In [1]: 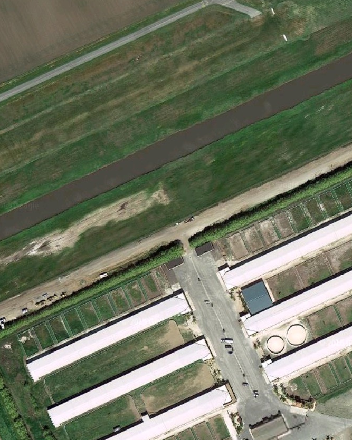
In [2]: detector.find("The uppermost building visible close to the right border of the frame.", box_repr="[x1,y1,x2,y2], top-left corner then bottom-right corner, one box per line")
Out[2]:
[218,211,352,289]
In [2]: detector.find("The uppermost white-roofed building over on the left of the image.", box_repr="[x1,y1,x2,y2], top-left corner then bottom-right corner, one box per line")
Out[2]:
[27,293,190,381]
